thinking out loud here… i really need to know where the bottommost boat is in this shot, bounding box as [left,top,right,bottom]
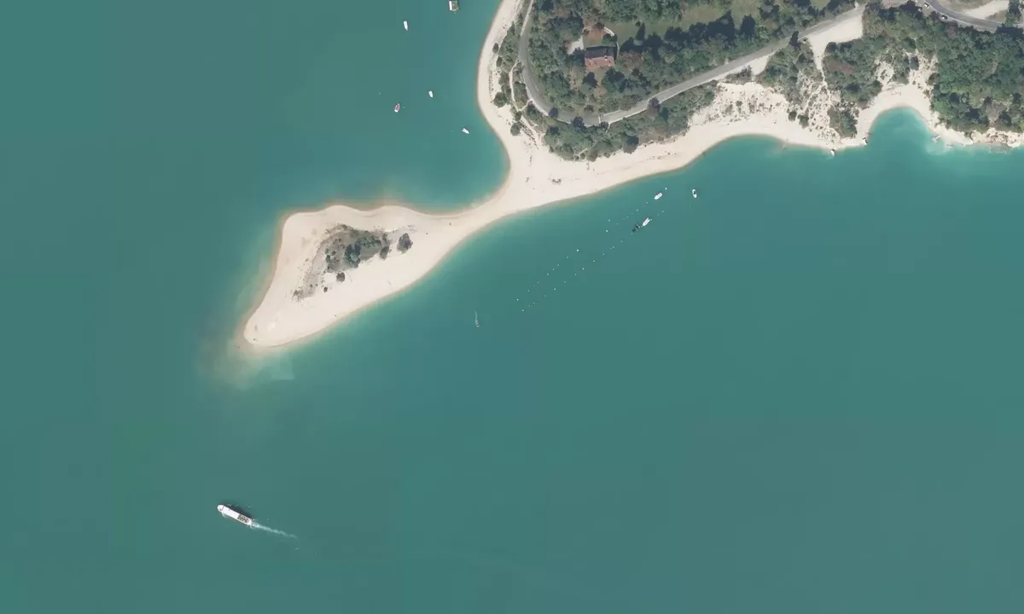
[217,505,255,526]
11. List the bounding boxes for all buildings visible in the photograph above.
[586,45,616,66]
